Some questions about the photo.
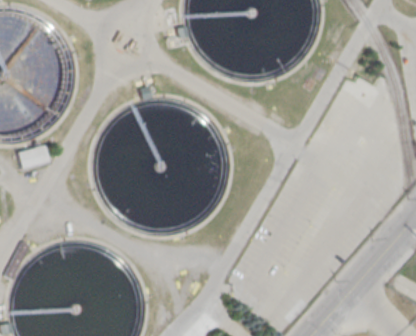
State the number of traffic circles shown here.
zero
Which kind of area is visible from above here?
industrial area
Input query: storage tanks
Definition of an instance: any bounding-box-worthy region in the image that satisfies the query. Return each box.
[0,0,78,147]
[4,236,149,336]
[88,93,232,240]
[180,0,324,86]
